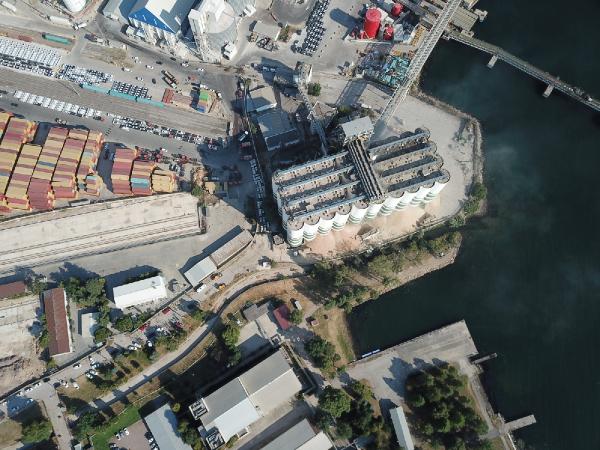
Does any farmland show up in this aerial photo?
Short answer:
No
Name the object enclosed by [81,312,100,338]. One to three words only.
house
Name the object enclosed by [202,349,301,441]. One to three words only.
building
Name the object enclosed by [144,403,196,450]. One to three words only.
building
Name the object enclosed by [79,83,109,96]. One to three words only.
rail car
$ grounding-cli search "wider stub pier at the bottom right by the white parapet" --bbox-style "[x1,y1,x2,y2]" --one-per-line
[499,413,537,435]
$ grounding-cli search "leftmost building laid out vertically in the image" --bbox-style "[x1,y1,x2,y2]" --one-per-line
[44,287,74,357]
